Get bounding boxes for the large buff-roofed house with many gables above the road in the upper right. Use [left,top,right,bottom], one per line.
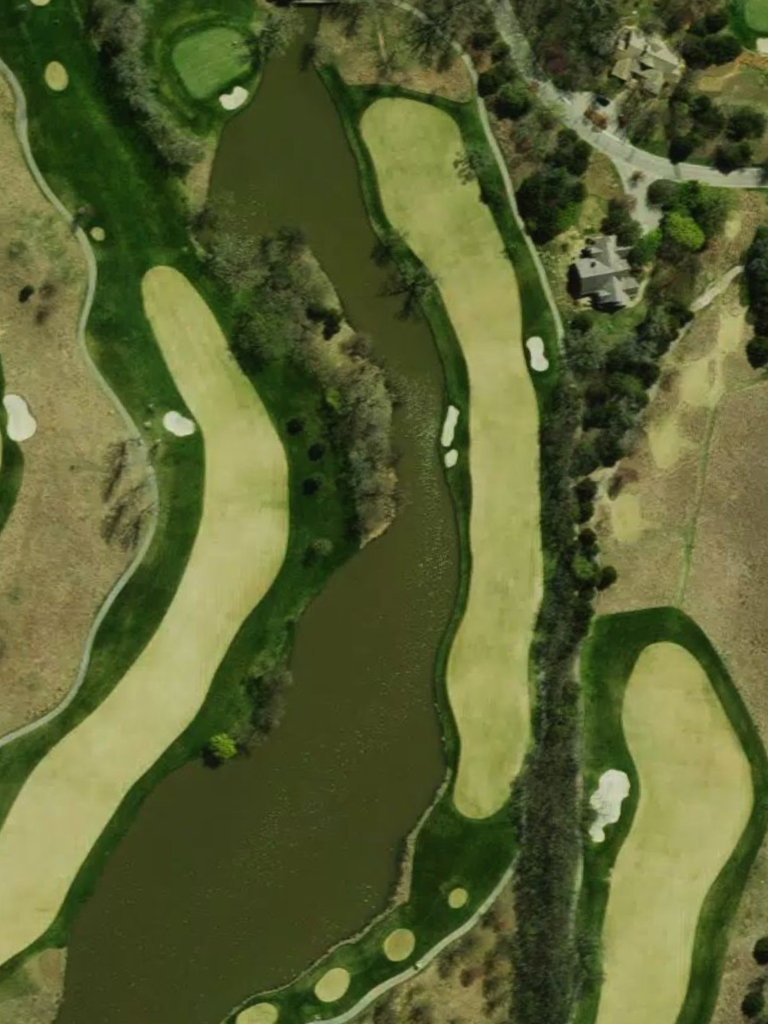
[607,31,681,95]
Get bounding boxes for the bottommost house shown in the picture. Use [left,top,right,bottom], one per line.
[569,237,640,308]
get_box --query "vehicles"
[619,116,626,129]
[596,95,610,107]
[414,961,422,968]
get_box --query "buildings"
[569,237,640,308]
[607,31,681,95]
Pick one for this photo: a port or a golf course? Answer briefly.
golf course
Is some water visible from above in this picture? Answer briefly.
Yes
